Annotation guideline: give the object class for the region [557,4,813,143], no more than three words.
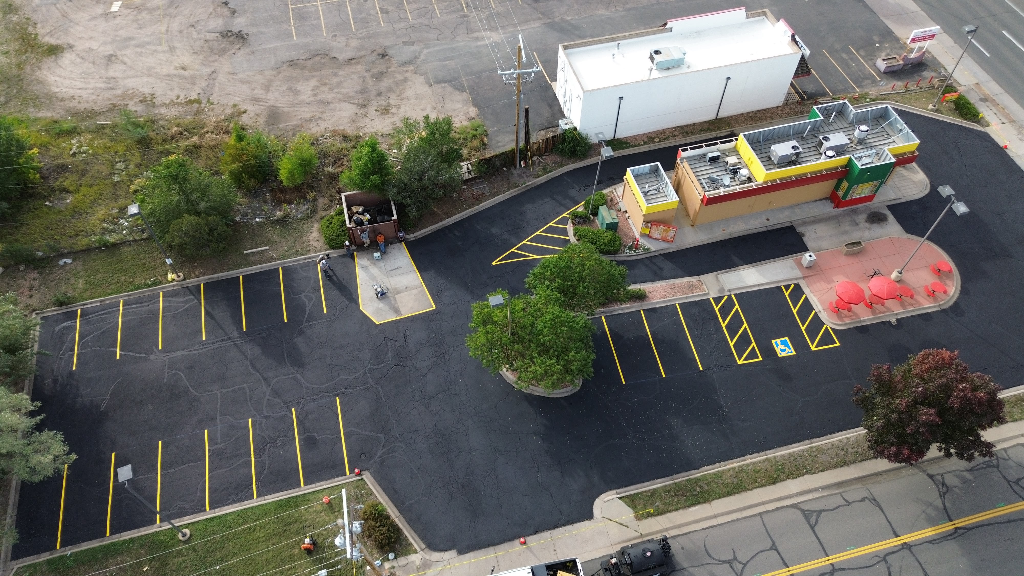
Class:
building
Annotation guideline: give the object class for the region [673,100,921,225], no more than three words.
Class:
building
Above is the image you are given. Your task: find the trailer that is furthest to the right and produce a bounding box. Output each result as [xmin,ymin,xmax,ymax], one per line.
[582,534,676,576]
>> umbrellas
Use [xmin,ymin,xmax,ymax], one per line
[834,282,869,308]
[868,276,903,303]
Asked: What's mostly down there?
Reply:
paved ground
